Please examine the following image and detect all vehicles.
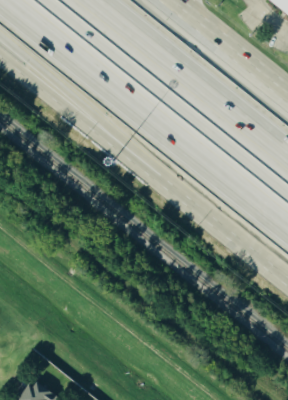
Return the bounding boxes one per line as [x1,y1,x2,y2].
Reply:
[166,136,176,144]
[98,73,108,81]
[268,38,276,48]
[124,85,133,93]
[172,63,182,71]
[84,30,93,38]
[246,124,254,132]
[234,122,244,130]
[224,102,233,110]
[64,44,72,52]
[242,52,250,60]
[213,38,222,46]
[40,44,54,57]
